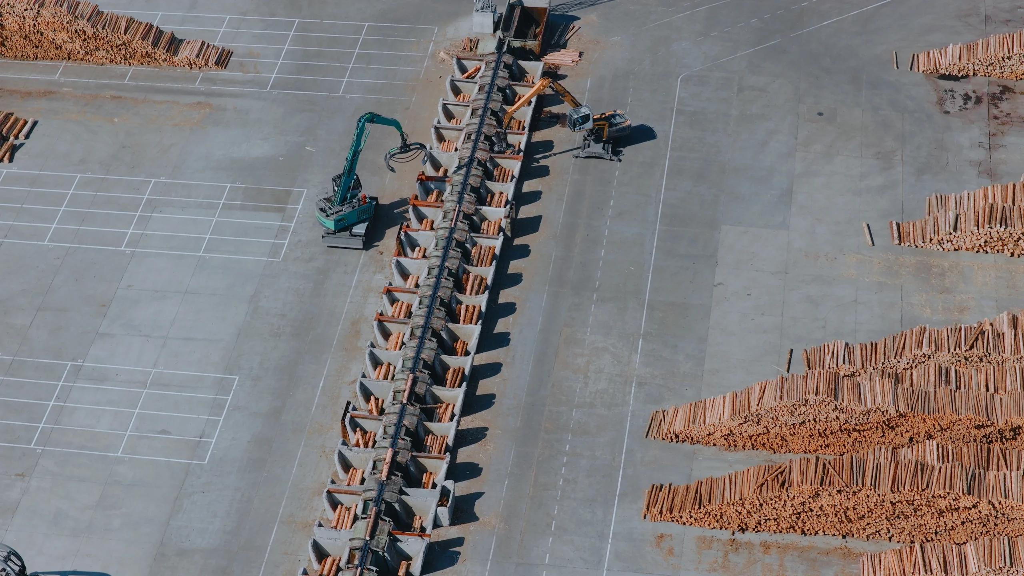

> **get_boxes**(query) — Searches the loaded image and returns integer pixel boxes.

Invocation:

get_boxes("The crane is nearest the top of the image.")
[493,72,634,160]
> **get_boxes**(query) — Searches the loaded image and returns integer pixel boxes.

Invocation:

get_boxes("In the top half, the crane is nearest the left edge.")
[318,108,430,250]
